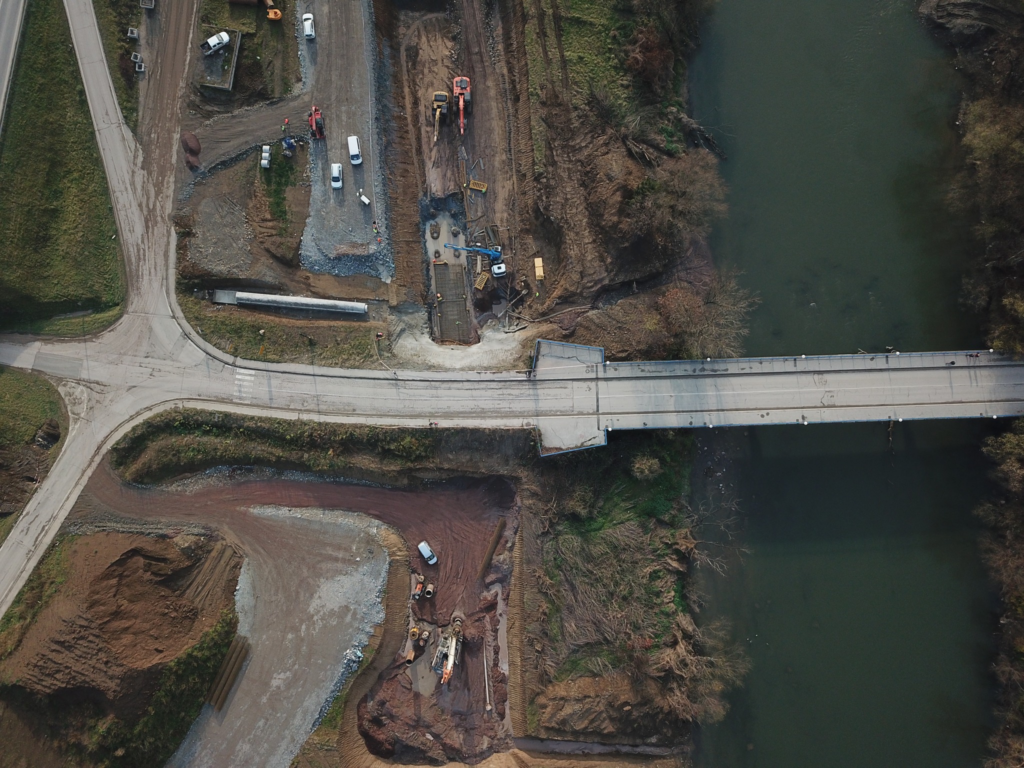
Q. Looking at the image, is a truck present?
Yes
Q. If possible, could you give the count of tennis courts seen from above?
0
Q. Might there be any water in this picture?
Yes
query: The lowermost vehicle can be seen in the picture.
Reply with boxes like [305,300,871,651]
[412,582,425,603]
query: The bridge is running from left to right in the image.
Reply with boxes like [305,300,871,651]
[532,340,1024,456]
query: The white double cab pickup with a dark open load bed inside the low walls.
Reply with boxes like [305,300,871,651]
[199,32,231,56]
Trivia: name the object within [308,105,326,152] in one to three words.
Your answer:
work vehicle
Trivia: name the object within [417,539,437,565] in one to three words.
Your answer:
vehicle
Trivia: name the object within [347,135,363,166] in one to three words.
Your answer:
vehicle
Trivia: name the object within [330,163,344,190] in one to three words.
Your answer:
car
